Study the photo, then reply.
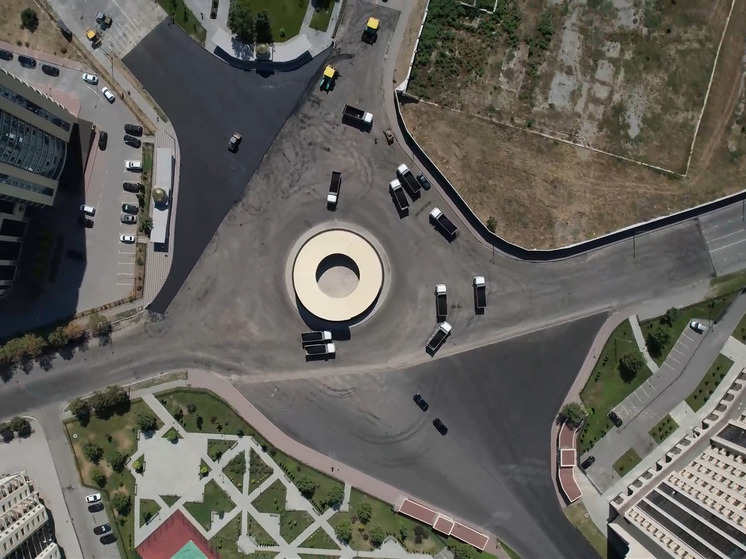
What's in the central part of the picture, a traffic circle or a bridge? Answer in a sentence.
You can see a traffic circle in the central part of the picture.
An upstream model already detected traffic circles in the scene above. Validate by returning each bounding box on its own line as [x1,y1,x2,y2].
[285,223,391,329]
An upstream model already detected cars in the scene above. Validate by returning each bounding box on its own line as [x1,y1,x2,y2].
[79,218,95,226]
[100,533,118,544]
[82,74,100,84]
[414,394,427,409]
[98,131,108,149]
[121,215,138,223]
[417,174,429,190]
[124,136,141,146]
[690,321,707,332]
[120,235,136,242]
[125,125,142,134]
[122,204,139,212]
[123,183,141,191]
[42,66,60,76]
[95,523,111,533]
[87,502,106,512]
[433,418,447,434]
[608,411,622,426]
[581,455,596,469]
[85,493,102,502]
[0,50,15,60]
[126,161,143,169]
[102,87,116,103]
[68,250,85,258]
[19,57,36,67]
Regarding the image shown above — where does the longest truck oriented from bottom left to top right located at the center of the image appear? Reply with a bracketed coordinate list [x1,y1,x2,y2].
[426,320,450,350]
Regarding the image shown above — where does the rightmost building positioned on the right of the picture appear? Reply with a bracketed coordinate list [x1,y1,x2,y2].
[603,363,746,559]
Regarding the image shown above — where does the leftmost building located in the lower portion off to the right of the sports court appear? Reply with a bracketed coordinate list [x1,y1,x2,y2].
[399,496,489,550]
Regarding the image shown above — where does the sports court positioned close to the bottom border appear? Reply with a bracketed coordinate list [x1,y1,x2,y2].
[130,509,224,559]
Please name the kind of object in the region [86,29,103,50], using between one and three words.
work vehicle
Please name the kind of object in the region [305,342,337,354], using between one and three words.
vehicle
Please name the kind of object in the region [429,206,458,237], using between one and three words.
truck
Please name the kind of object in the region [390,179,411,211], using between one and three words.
truck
